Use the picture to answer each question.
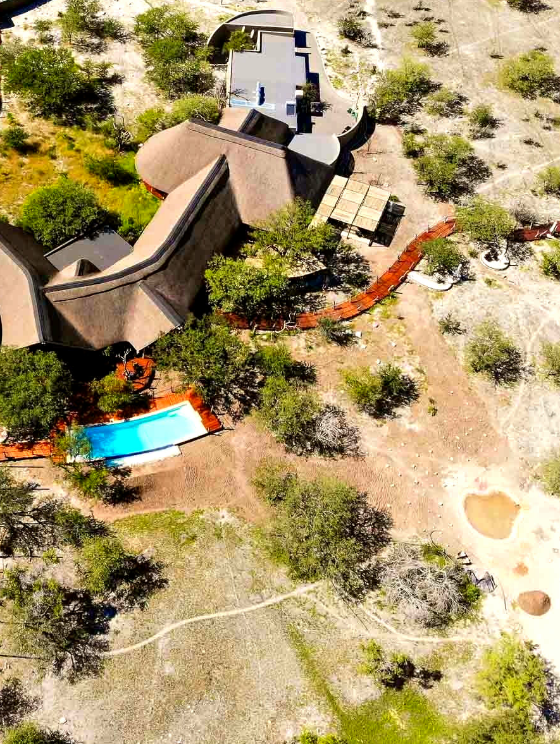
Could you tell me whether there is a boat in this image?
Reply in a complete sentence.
No, the frame has no boat in it.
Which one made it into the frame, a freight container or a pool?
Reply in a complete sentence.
This aerial view contains a pool.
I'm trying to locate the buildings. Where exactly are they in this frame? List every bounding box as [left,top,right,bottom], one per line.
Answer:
[221,8,294,45]
[0,108,331,357]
